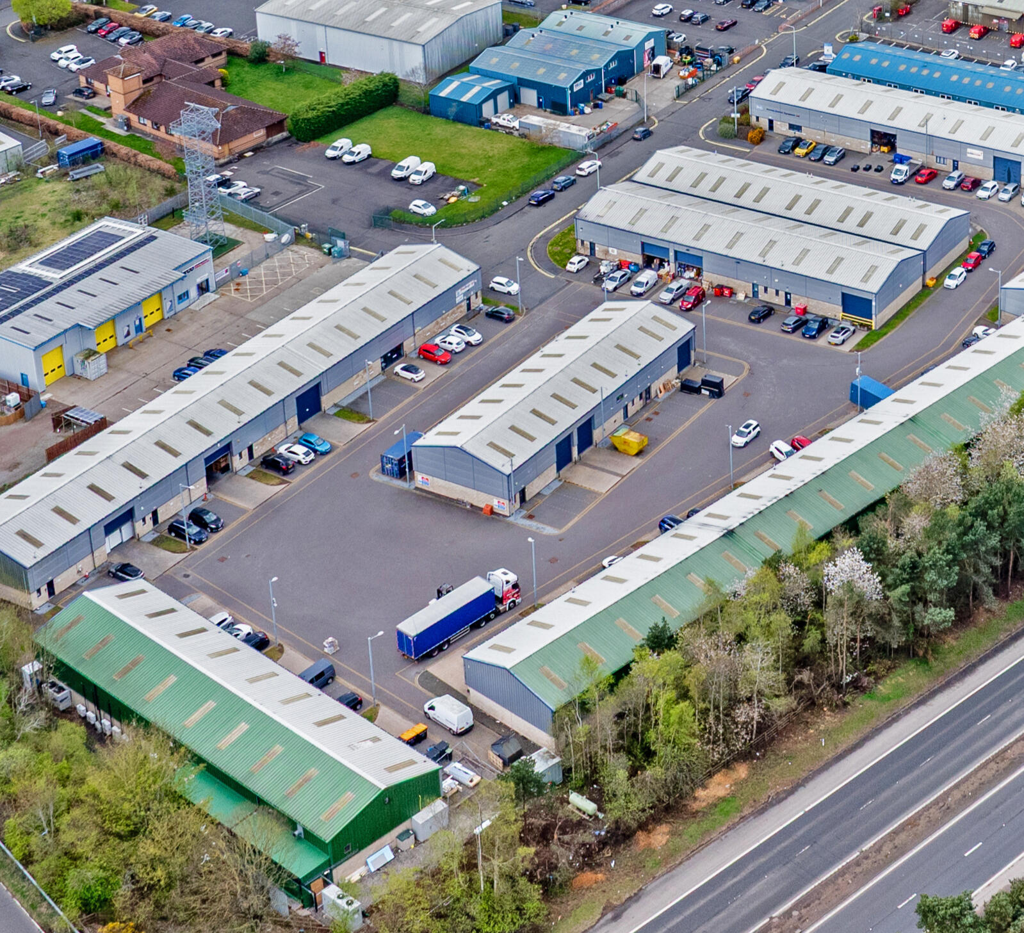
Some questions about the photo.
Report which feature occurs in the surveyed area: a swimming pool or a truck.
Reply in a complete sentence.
The one in the frame is a truck.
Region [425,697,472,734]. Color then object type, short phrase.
white van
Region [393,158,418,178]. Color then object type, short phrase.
white vehicle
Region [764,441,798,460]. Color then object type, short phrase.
white car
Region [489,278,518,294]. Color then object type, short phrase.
white car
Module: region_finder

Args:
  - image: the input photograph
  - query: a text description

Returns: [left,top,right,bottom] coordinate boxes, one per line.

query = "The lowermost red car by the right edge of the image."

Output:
[960,251,984,271]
